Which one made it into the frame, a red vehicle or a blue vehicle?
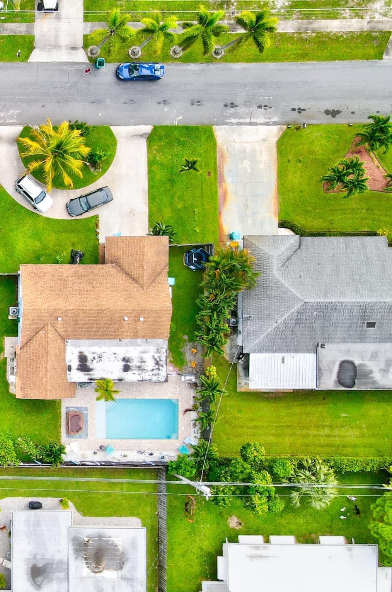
blue vehicle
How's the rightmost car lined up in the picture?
horizontally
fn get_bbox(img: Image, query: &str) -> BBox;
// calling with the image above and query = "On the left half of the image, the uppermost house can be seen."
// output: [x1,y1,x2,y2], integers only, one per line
[15,235,176,400]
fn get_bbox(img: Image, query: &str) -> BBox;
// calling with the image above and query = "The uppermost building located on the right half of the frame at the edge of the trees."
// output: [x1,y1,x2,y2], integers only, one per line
[233,235,392,390]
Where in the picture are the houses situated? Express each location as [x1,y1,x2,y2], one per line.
[198,535,392,592]
[0,510,146,592]
[233,235,392,390]
[15,235,176,400]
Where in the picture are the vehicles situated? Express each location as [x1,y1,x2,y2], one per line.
[65,185,117,218]
[11,176,54,214]
[116,58,165,82]
[37,0,62,14]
